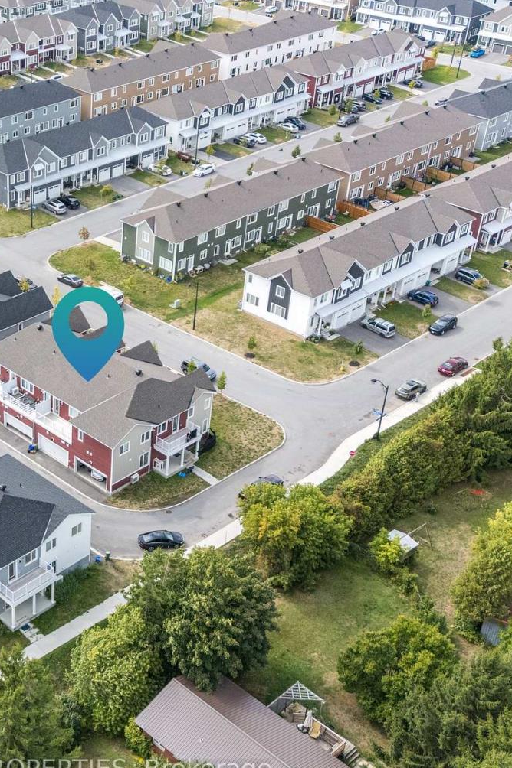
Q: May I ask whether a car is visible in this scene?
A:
Yes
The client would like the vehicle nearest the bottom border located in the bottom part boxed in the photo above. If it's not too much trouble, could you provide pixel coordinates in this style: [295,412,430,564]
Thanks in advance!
[140,529,179,556]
